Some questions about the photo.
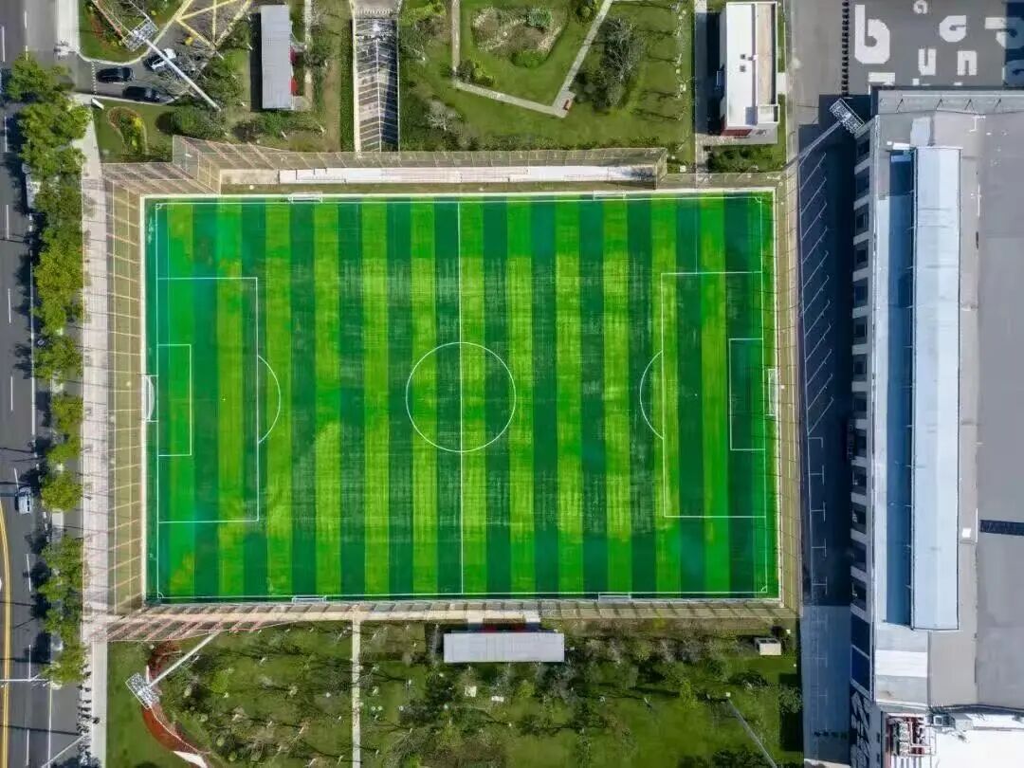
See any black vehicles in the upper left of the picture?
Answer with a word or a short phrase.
Yes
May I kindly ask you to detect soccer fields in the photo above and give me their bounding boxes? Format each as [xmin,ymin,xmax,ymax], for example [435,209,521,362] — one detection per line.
[140,187,782,607]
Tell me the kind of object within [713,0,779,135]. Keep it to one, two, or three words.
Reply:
building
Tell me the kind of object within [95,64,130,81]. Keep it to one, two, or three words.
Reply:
car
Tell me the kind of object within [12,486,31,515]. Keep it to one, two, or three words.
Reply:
car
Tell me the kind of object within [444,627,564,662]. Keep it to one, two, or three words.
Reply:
shed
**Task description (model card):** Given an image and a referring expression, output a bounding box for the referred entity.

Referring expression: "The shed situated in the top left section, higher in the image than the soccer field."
[260,6,296,115]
